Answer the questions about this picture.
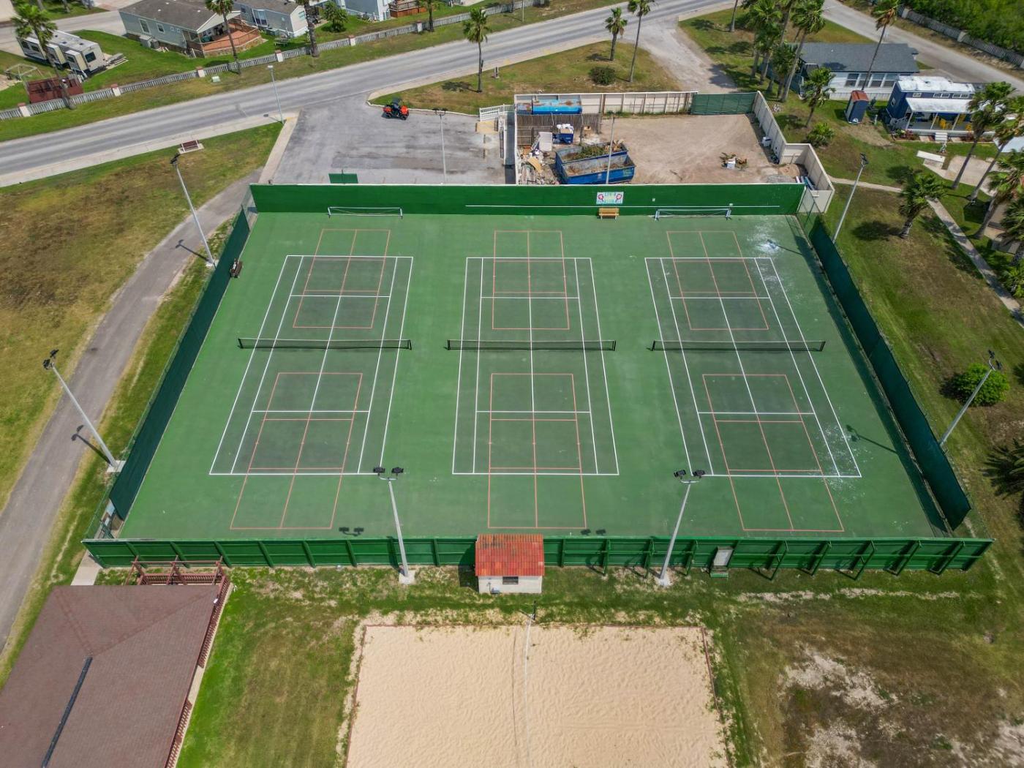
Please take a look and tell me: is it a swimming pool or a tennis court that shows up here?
tennis court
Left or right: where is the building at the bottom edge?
left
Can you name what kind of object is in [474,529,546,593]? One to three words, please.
shed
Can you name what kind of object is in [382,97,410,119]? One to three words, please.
vehicle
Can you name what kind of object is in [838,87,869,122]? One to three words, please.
shed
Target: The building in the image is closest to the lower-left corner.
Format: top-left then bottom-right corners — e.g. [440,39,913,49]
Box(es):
[0,558,234,768]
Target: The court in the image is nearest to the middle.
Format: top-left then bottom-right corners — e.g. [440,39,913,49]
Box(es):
[451,230,620,529]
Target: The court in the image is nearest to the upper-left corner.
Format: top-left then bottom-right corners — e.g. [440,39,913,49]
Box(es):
[210,230,413,528]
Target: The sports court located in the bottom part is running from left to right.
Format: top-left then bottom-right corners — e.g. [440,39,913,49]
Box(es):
[341,623,732,768]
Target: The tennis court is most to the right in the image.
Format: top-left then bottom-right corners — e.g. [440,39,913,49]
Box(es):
[646,231,860,530]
